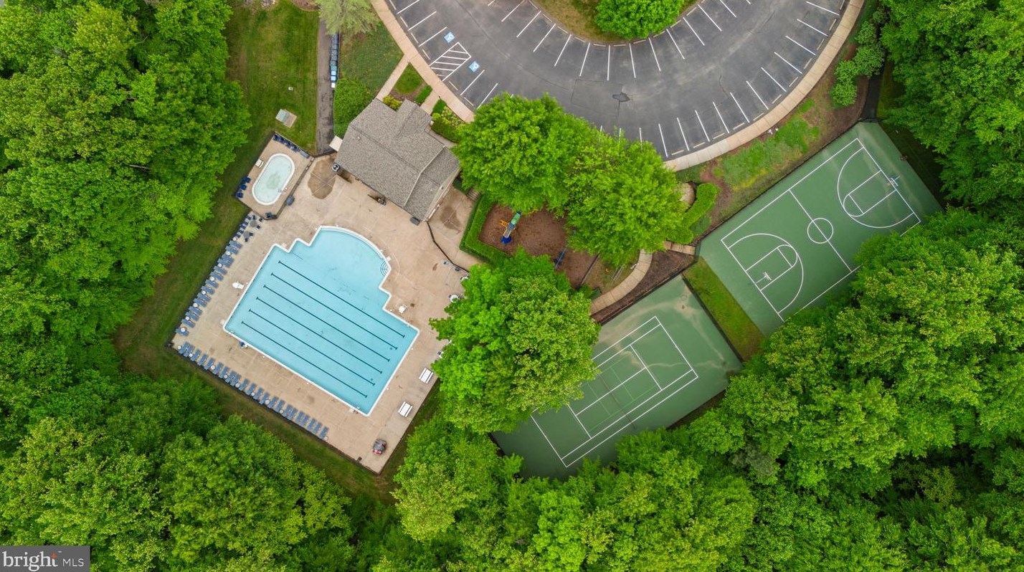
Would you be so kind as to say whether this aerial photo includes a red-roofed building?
No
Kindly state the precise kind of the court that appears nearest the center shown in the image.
tennis court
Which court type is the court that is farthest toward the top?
basketball court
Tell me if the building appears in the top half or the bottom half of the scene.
top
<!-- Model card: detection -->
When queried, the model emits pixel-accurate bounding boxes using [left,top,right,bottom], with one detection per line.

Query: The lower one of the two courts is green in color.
[483,279,751,502]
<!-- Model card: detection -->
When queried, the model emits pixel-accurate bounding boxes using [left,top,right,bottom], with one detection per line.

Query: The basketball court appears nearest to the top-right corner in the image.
[697,119,945,351]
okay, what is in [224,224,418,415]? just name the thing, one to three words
swimming pool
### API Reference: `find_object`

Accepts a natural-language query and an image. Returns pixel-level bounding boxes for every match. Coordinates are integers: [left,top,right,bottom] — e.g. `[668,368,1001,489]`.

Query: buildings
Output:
[329,99,461,221]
